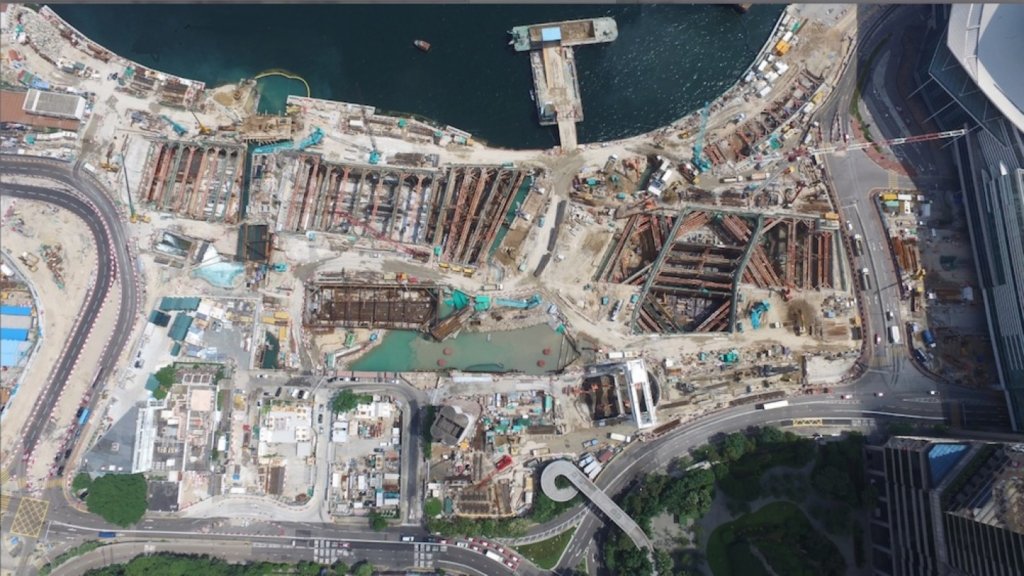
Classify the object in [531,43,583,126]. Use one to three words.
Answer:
ship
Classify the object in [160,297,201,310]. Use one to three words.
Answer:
shed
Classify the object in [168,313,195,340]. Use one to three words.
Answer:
shed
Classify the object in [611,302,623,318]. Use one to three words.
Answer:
vehicle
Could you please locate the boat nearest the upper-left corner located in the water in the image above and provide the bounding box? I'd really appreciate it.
[415,39,430,52]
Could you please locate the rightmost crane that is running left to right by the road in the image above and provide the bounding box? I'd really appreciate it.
[737,128,968,178]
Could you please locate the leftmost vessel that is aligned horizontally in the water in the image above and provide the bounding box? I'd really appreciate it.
[508,17,619,54]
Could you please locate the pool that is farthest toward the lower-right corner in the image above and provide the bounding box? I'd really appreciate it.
[934,445,968,483]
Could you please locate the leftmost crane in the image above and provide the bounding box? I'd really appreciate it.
[120,155,145,227]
